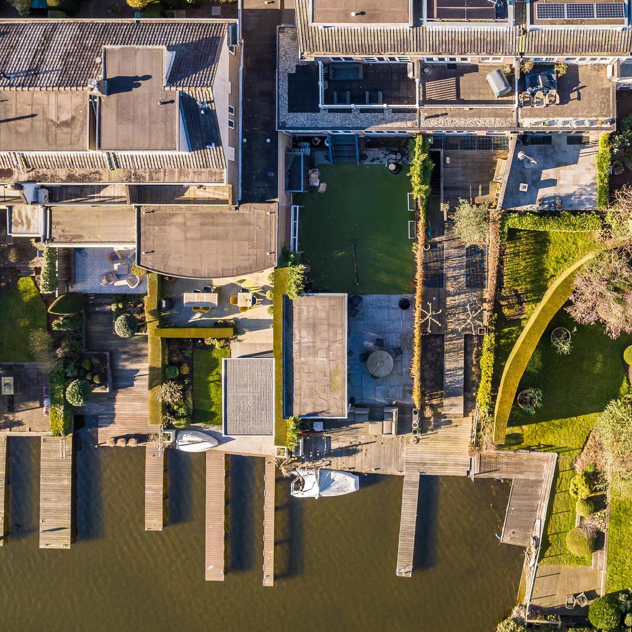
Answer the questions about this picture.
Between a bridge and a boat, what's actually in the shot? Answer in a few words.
boat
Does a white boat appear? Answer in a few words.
Yes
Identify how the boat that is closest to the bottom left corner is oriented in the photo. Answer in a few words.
from side to side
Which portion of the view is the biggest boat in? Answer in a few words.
bottom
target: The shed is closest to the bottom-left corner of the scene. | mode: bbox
[223,351,276,436]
